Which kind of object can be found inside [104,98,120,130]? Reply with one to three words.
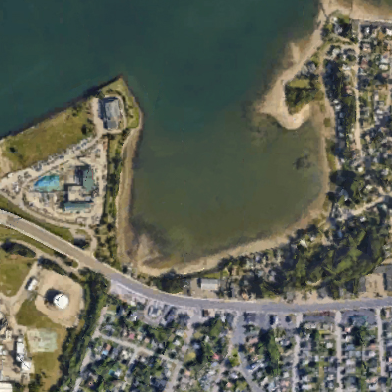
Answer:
building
